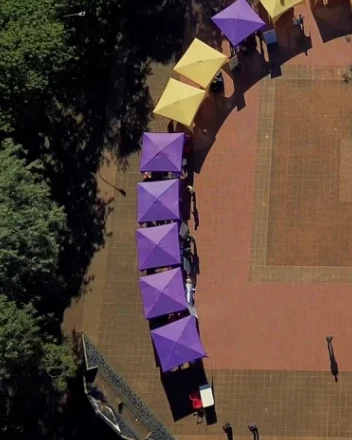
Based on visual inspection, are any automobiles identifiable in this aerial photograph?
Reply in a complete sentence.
No, I find no automobile anywhere in the image.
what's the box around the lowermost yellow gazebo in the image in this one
[152,77,211,137]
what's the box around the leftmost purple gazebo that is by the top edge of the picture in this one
[211,0,267,55]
